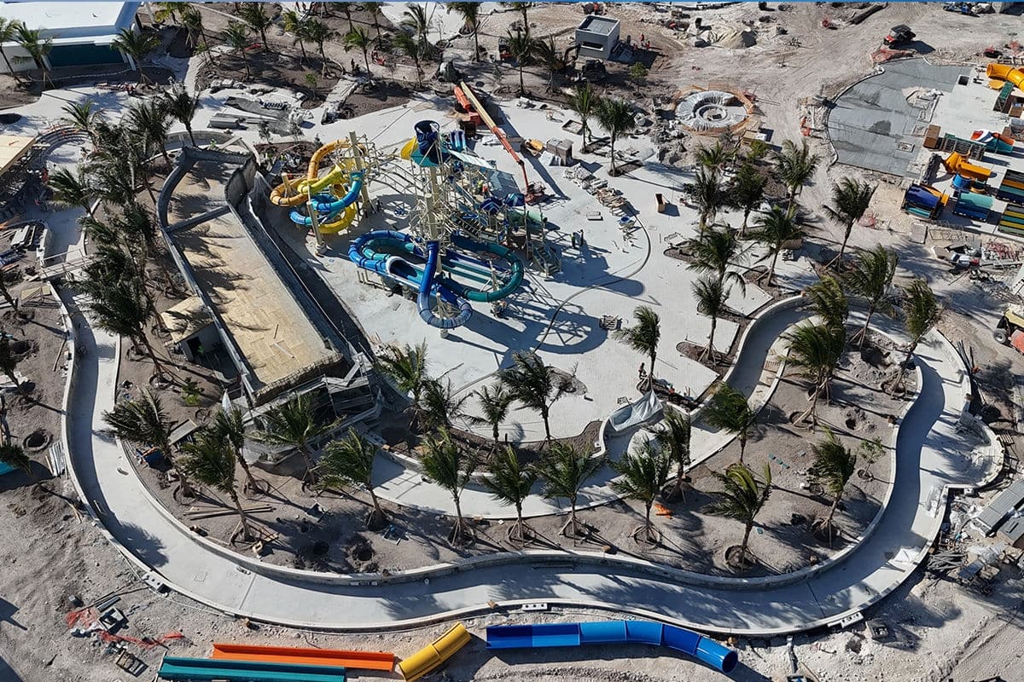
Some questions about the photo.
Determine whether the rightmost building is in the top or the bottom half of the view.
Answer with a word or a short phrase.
top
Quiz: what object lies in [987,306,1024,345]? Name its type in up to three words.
work vehicle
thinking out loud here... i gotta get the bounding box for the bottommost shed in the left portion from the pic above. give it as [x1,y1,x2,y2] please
[160,294,224,368]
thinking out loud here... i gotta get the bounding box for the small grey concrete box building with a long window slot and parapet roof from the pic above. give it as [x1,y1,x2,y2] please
[576,4,622,59]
